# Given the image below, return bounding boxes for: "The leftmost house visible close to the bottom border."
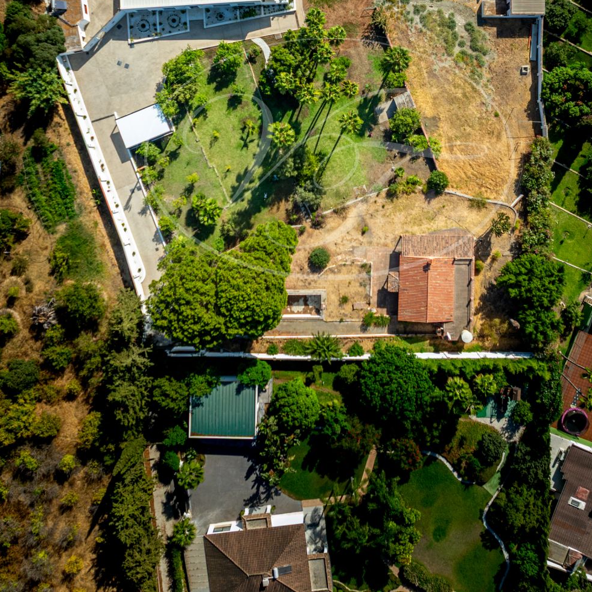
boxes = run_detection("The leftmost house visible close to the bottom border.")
[182,498,335,592]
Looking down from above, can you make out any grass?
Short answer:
Yes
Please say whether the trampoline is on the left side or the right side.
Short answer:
right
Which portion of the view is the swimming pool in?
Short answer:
center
